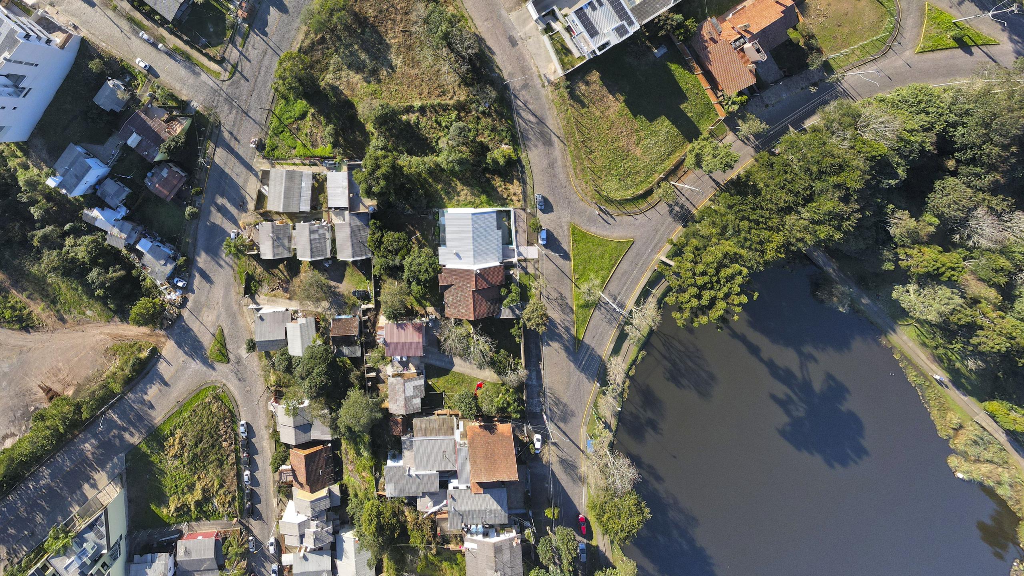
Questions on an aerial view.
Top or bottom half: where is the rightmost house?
top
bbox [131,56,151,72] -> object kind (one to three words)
car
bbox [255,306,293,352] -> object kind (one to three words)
house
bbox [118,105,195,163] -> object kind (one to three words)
house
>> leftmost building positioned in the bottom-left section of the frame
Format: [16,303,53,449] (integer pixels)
[31,485,128,576]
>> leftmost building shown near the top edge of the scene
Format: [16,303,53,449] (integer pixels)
[0,0,88,142]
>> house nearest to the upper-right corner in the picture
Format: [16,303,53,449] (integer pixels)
[685,0,799,97]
